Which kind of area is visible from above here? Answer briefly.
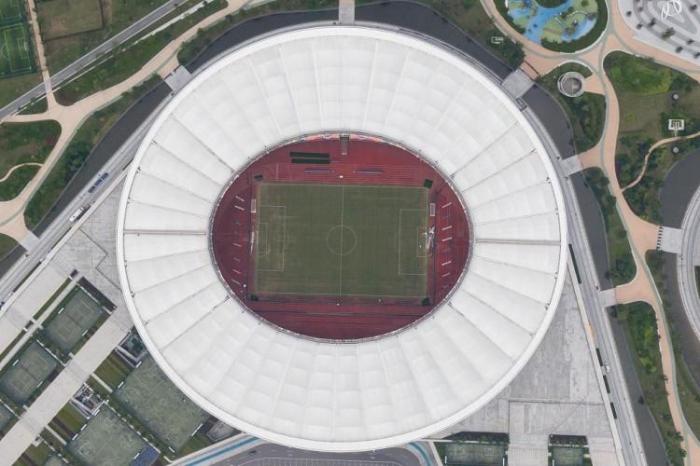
sports ground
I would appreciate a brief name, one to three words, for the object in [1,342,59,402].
sports court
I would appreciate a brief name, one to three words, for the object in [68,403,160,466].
sports court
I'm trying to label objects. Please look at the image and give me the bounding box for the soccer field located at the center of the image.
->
[254,181,430,299]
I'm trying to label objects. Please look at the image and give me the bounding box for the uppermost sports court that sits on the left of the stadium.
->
[46,290,104,350]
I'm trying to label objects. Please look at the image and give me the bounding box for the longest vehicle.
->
[68,204,84,222]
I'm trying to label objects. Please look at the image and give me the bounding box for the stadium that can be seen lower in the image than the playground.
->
[117,26,566,451]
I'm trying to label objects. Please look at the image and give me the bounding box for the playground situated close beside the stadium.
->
[495,0,604,53]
